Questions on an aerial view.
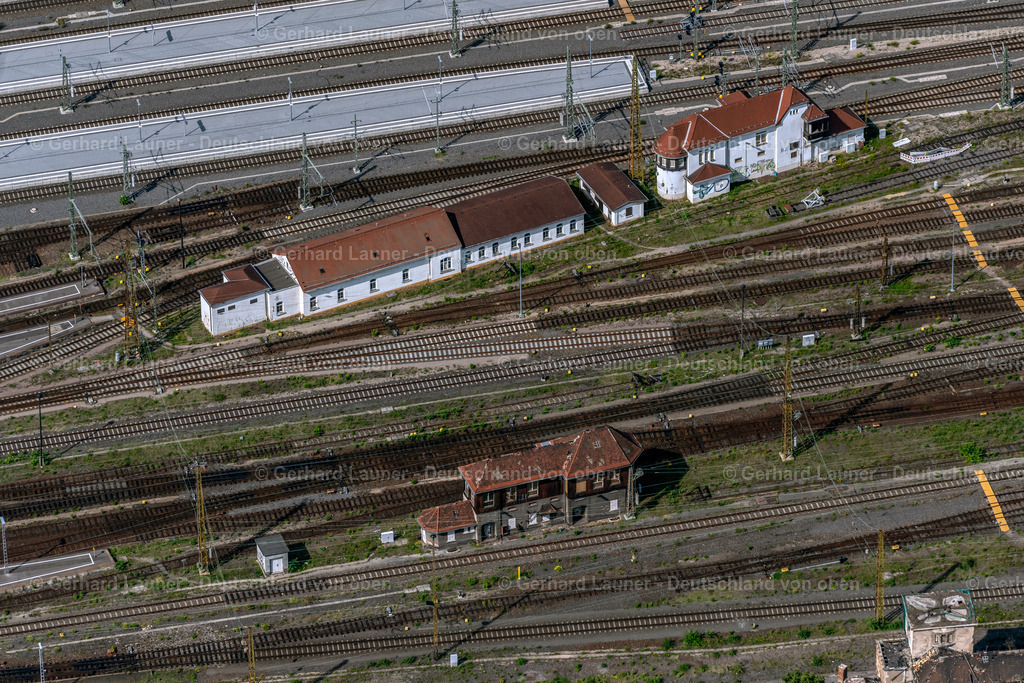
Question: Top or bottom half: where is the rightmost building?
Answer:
bottom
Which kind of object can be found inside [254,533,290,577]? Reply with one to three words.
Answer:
shed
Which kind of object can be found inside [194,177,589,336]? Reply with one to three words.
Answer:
building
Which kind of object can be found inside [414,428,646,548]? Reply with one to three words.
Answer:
building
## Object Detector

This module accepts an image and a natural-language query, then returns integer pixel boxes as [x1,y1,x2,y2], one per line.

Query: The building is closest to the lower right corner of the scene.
[874,589,1024,683]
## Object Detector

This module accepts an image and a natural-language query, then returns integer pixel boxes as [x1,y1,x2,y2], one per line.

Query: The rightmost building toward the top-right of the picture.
[651,83,871,204]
